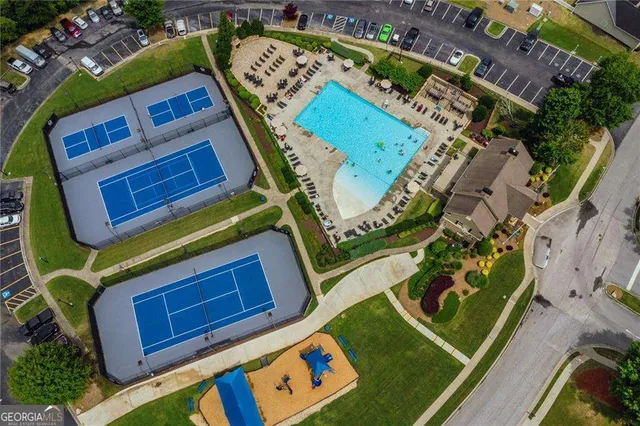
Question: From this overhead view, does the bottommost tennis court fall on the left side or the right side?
left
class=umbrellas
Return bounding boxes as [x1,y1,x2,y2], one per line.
[342,59,355,71]
[406,181,421,194]
[274,126,288,138]
[294,164,309,178]
[379,79,393,92]
[295,56,309,69]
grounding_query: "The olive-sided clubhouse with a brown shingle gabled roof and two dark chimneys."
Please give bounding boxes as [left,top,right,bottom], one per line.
[442,139,539,239]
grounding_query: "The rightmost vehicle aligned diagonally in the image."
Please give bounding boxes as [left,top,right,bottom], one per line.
[521,30,539,50]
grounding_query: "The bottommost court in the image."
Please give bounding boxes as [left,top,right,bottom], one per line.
[95,230,309,381]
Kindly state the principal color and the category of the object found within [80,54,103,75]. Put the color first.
white vehicle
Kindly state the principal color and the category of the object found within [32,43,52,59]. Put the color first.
black car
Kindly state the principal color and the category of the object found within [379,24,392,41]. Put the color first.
green vehicle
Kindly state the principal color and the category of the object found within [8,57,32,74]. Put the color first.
white vehicle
